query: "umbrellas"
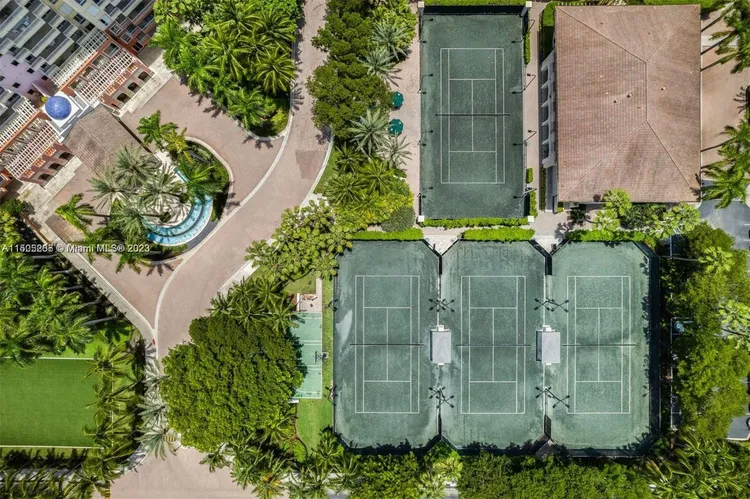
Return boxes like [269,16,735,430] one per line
[390,94,405,108]
[389,119,404,135]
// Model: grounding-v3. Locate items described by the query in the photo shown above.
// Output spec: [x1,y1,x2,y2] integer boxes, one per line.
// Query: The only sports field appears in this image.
[0,358,112,448]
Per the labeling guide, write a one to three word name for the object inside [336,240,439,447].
tennis court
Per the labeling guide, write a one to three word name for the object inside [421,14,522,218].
tennis court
